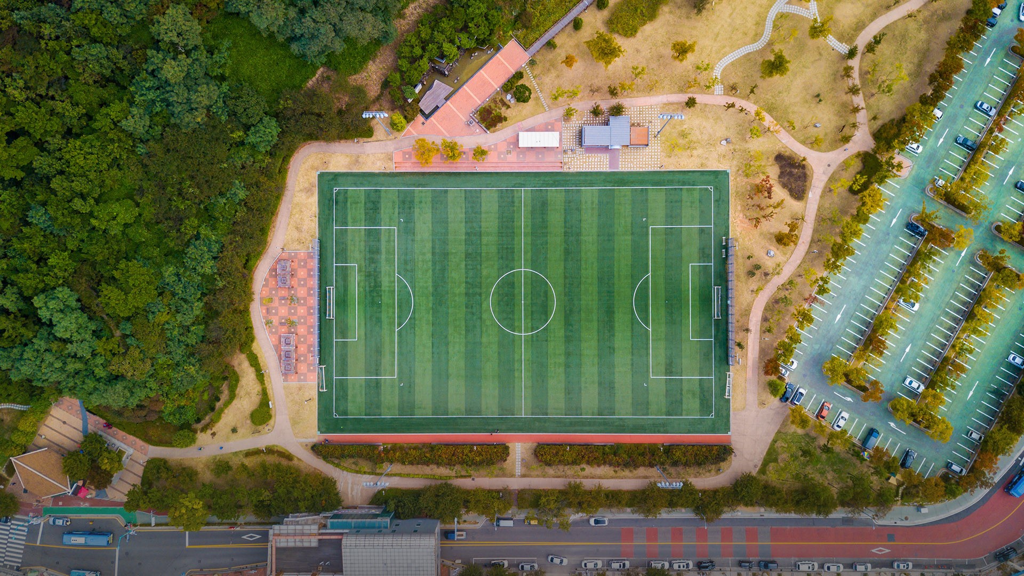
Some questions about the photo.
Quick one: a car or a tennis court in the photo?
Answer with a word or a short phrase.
car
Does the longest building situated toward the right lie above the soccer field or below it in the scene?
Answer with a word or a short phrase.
above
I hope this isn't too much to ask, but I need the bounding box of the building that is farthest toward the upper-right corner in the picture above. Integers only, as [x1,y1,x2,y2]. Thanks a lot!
[580,116,650,150]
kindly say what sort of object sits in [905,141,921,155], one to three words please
car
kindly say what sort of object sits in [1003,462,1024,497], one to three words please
bus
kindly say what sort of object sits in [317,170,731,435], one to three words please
soccer field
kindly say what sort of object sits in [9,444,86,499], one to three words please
building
